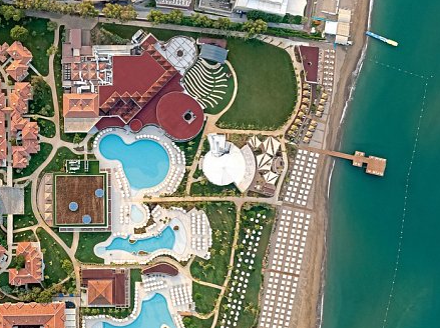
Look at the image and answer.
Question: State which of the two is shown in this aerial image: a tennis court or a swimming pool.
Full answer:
Of the two, only a swimming pool appears.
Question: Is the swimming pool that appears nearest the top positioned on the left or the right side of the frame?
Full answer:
You can find the swimming pool that appears nearest the top on the left side of the picture.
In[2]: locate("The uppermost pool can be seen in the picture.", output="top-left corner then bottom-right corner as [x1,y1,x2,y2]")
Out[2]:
[99,133,171,190]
